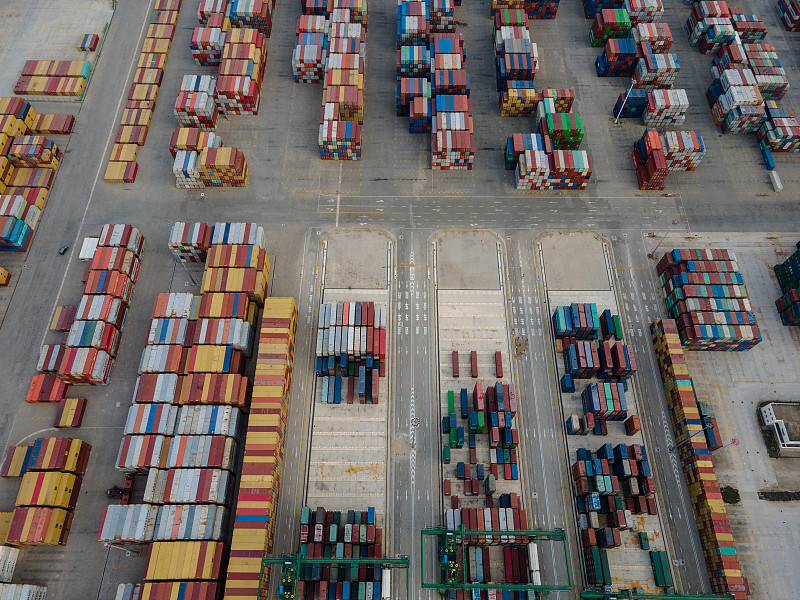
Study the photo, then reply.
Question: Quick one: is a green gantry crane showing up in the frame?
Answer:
Yes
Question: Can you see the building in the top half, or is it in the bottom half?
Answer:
bottom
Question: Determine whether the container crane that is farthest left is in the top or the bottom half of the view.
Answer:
bottom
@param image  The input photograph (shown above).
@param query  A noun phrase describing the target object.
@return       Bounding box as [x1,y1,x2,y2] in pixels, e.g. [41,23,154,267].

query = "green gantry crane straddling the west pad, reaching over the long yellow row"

[259,550,410,600]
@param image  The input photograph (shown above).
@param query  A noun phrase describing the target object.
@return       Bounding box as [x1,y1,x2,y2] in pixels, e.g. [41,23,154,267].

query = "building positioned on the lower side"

[753,402,800,451]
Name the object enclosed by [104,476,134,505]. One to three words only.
work vehicle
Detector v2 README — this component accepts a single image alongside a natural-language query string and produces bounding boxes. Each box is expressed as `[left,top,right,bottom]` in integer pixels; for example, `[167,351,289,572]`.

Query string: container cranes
[259,550,410,600]
[580,585,736,600]
[421,522,574,596]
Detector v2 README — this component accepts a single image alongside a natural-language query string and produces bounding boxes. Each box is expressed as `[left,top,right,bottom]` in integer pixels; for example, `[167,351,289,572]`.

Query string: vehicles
[383,564,390,598]
[57,246,67,255]
[104,476,134,505]
[529,537,541,585]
